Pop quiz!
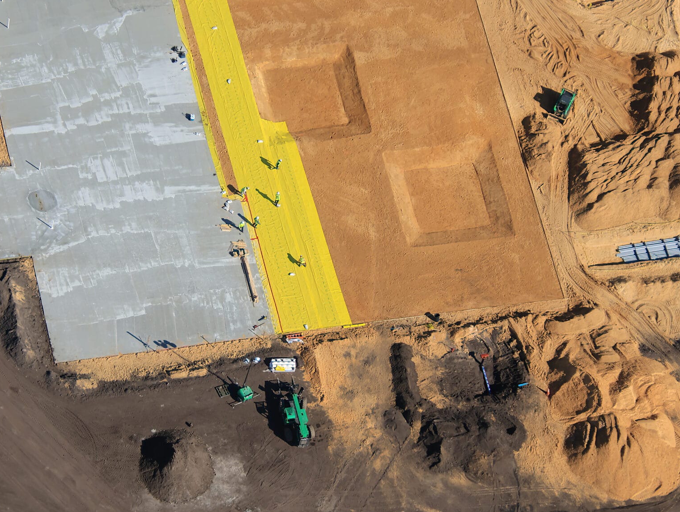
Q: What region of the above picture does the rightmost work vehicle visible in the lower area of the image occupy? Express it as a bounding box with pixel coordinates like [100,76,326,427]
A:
[273,377,318,452]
